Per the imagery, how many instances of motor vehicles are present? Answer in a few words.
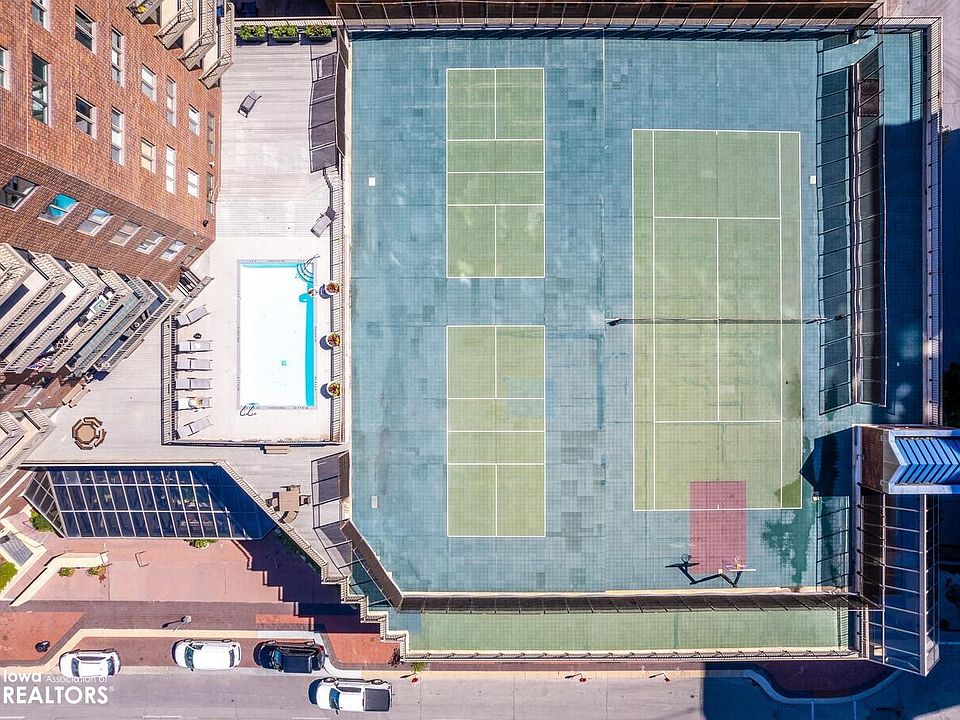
4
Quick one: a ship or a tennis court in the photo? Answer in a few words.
tennis court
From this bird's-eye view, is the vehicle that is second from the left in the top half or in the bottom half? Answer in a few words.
bottom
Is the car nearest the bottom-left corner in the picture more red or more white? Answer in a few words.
white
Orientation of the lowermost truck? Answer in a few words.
horizontally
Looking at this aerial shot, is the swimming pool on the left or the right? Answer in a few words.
left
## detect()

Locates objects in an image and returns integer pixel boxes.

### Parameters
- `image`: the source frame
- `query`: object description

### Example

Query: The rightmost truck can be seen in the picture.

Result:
[316,678,394,715]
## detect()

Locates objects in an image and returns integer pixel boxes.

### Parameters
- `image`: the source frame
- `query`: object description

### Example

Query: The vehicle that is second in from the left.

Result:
[175,638,243,673]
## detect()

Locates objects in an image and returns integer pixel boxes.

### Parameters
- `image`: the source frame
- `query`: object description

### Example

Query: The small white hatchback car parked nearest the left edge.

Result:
[60,649,124,682]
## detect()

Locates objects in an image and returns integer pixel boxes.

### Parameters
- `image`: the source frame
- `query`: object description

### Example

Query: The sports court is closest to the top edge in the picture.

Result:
[446,68,546,278]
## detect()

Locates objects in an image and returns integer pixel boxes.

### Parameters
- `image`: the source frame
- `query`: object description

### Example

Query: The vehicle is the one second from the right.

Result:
[259,638,326,673]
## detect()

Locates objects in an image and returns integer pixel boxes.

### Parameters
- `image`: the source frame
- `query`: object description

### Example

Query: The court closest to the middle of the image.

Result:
[446,325,547,537]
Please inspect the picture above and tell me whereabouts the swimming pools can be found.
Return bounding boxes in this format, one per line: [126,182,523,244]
[238,256,319,415]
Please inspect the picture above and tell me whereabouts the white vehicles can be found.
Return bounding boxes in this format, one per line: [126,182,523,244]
[60,649,124,682]
[175,638,243,673]
[316,678,394,715]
